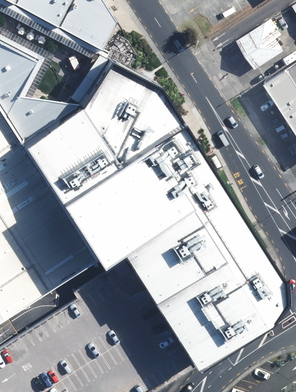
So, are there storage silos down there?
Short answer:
No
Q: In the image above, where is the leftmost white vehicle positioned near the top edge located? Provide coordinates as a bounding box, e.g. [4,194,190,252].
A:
[216,6,236,20]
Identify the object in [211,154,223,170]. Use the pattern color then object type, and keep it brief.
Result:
white vehicle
